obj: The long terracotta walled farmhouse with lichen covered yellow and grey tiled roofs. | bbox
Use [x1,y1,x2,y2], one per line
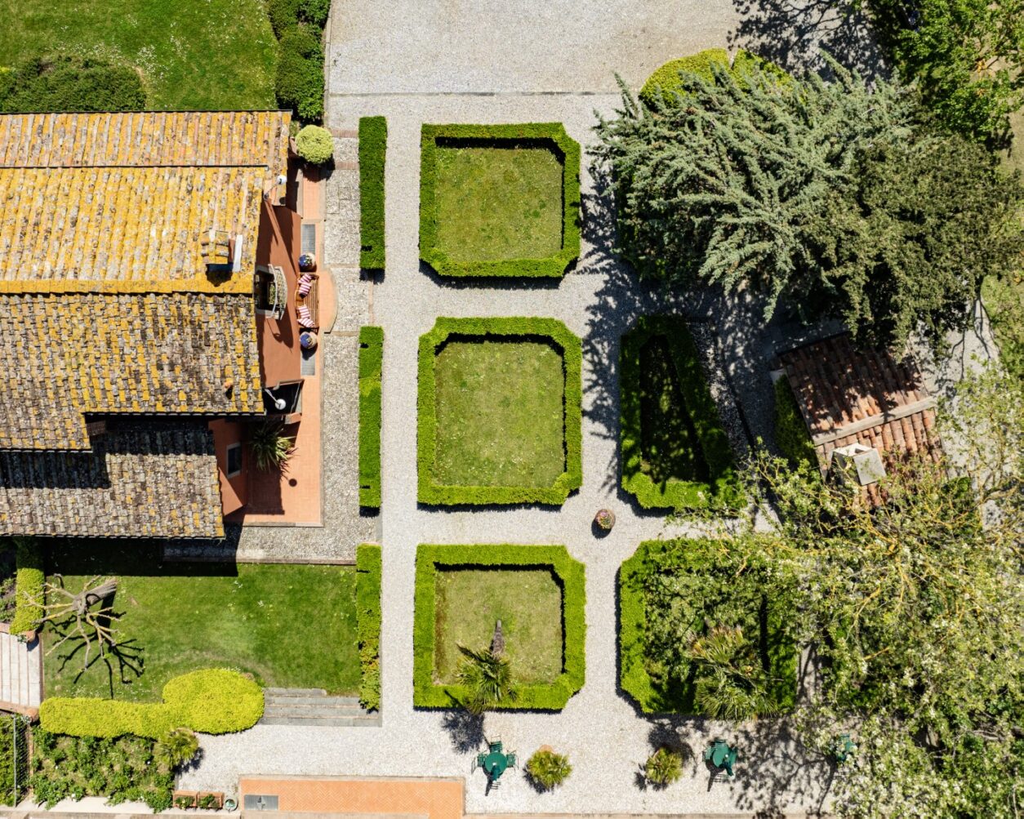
[0,109,307,540]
